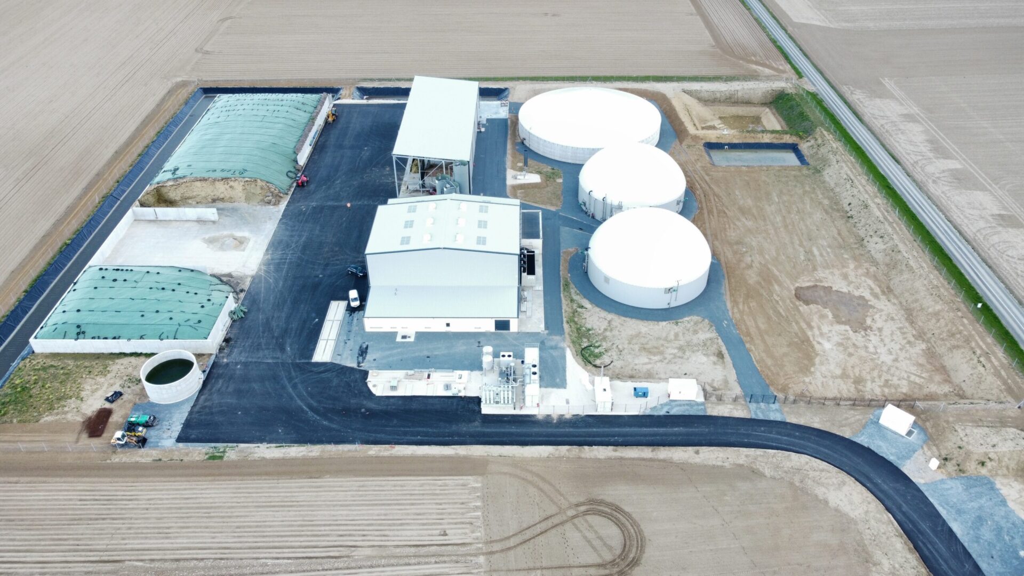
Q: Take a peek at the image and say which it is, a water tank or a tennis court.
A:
water tank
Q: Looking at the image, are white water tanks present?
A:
Yes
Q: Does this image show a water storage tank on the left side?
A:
Yes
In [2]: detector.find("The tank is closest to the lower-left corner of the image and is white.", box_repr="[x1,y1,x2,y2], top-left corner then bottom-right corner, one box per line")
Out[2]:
[139,349,204,405]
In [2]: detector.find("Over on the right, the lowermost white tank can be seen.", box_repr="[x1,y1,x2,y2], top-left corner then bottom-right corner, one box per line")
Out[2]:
[584,207,712,309]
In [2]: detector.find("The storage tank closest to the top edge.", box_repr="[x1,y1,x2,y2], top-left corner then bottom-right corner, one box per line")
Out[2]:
[518,87,662,164]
